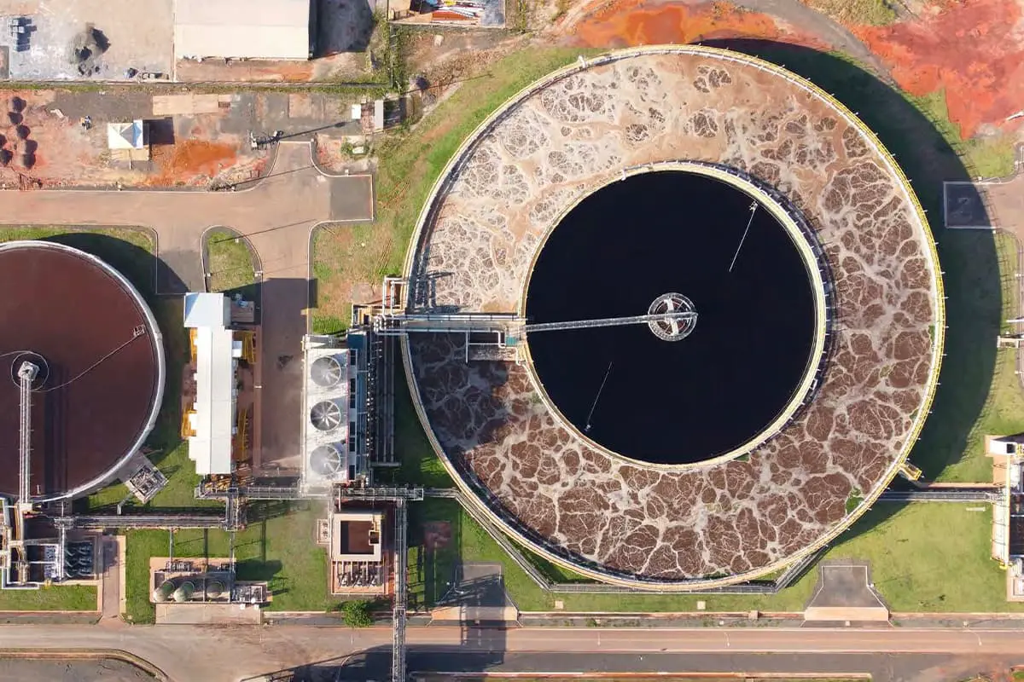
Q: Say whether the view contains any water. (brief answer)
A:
Yes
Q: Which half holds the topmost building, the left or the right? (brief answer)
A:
left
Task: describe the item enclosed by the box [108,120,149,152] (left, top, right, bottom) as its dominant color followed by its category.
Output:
white tent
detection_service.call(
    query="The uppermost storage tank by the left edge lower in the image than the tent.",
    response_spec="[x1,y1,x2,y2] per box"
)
[0,238,164,508]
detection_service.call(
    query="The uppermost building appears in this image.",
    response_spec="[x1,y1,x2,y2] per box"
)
[175,0,315,67]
